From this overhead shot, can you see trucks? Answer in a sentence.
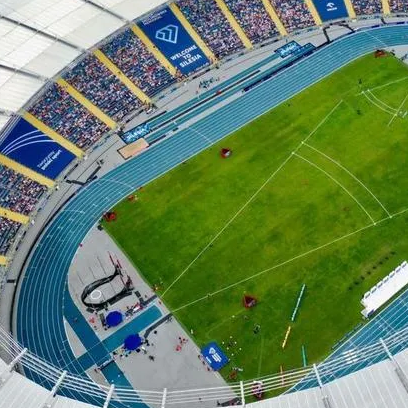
No, the picture doesn't show any truck.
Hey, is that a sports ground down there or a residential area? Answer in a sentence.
This looks like a sports ground.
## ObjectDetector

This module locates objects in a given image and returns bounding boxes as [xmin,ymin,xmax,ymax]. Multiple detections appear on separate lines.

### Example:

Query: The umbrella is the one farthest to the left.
[103,310,123,327]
